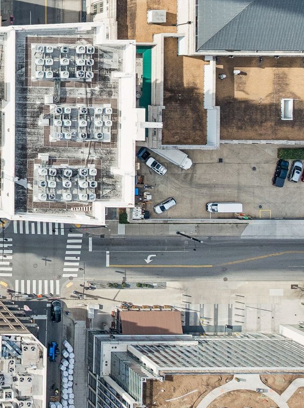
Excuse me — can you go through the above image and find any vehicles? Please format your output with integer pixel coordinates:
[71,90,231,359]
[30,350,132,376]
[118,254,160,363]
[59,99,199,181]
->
[152,195,176,214]
[143,148,192,174]
[46,336,57,359]
[272,159,287,186]
[50,299,62,323]
[144,157,167,176]
[286,160,302,183]
[209,202,241,212]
